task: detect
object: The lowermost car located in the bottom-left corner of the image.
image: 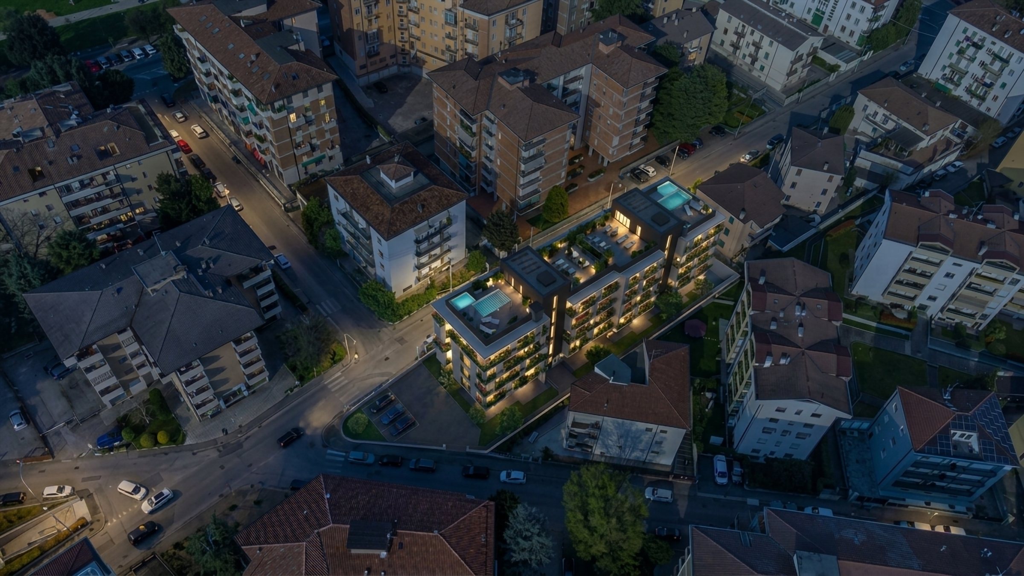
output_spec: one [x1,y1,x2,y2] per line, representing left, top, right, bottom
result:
[126,519,160,545]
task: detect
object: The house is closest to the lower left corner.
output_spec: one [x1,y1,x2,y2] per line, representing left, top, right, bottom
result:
[30,536,115,576]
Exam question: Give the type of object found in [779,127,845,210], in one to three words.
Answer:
house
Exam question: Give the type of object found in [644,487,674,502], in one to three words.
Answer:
car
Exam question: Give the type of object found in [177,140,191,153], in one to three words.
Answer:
vehicle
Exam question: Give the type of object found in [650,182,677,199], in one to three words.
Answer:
swimming pool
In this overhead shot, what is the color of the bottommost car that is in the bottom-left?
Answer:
black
